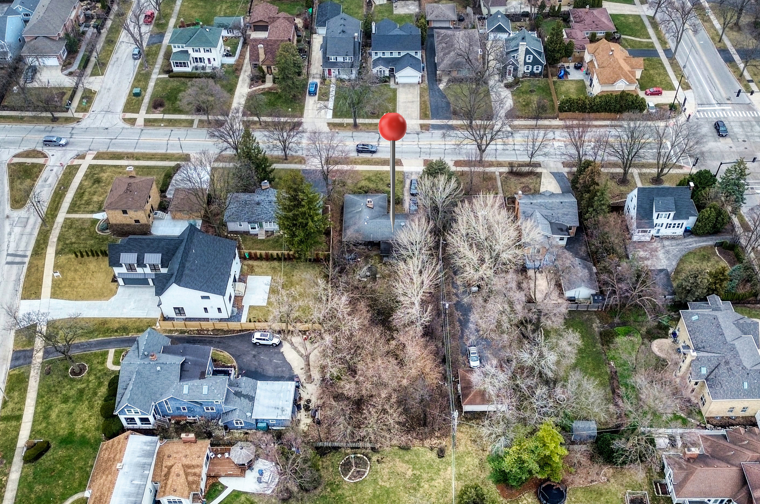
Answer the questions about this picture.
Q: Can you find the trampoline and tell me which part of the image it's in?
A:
bottom right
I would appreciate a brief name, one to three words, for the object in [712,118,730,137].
car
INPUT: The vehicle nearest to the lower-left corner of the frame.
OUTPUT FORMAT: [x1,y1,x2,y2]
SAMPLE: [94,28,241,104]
[249,330,281,347]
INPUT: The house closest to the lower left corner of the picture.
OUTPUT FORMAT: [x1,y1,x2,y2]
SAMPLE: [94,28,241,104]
[85,418,214,504]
